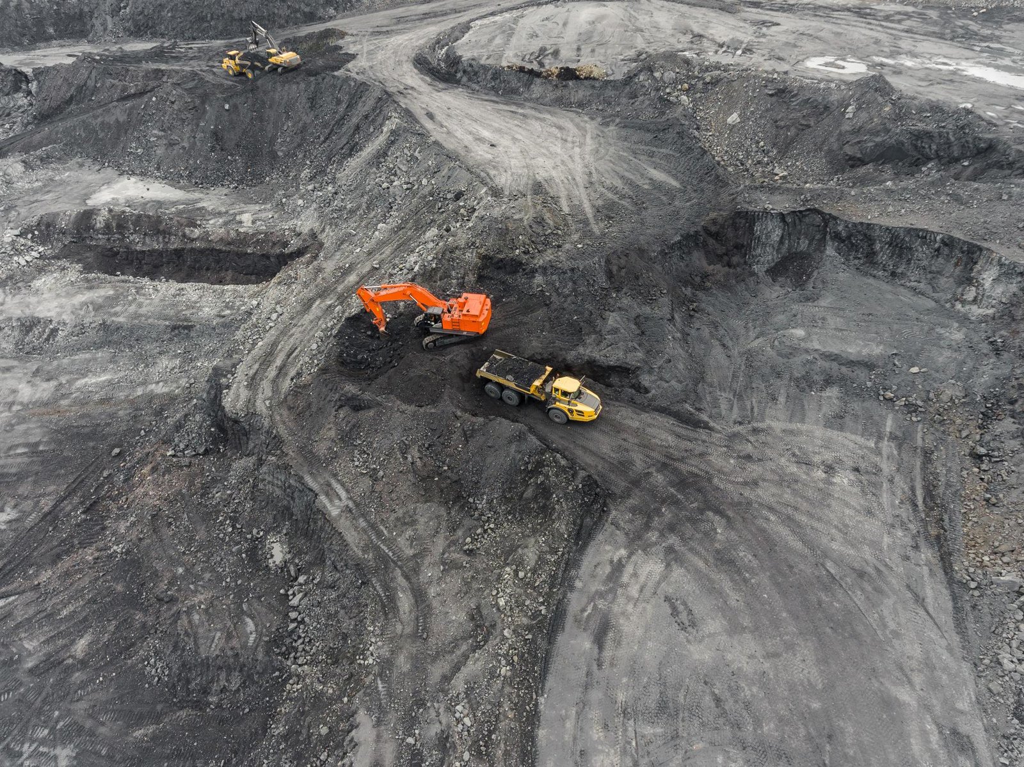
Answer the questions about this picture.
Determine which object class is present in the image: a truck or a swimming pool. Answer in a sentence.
There is a truck in the scene.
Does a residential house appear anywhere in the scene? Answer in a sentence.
No, no residential house can be seen from above.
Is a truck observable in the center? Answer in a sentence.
Yes, a truck appears in the center.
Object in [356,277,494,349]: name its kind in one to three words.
work vehicle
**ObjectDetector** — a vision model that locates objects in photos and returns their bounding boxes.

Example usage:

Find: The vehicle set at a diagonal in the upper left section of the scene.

[247,17,301,73]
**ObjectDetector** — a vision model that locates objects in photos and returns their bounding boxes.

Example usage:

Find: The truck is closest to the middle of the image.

[474,349,603,430]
